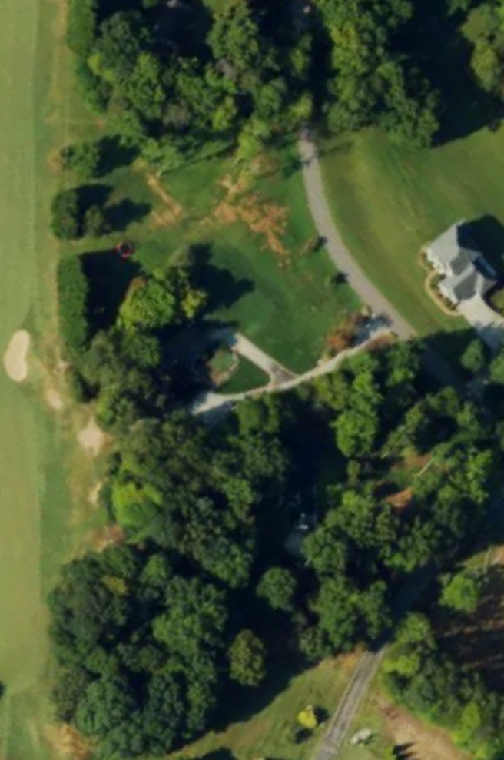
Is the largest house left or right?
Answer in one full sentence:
You can find the largest house on the right side of the picture.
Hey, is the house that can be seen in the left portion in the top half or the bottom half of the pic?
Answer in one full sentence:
The house that can be seen in the left portion sits in the top half of the picture.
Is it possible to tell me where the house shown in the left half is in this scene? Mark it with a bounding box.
[150,2,206,49]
